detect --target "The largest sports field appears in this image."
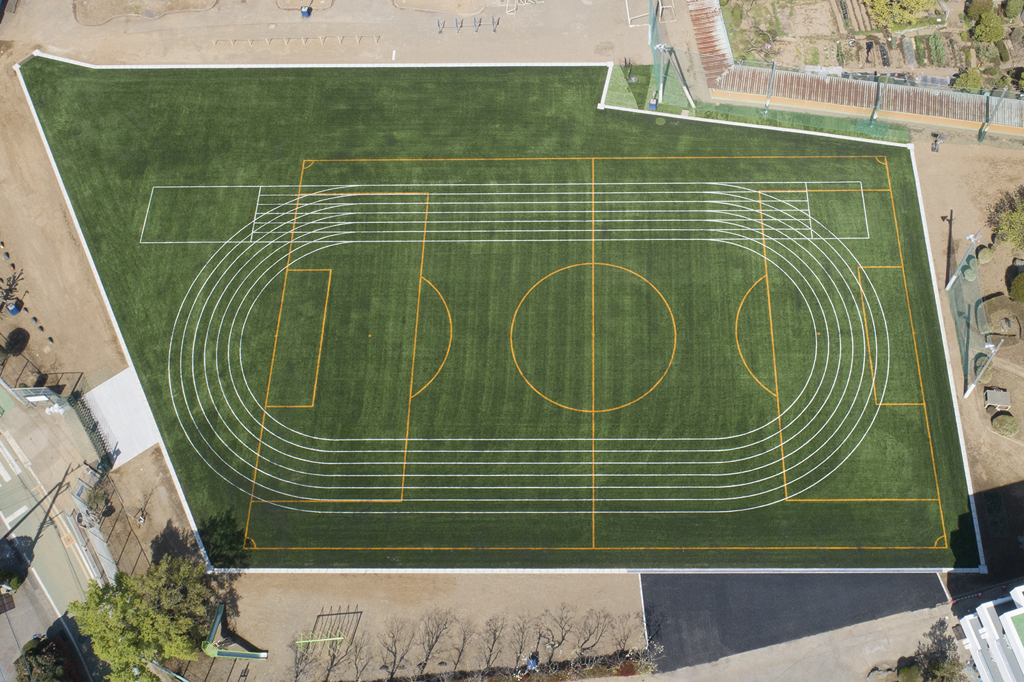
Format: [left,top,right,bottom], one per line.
[19,54,980,567]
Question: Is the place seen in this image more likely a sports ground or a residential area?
sports ground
